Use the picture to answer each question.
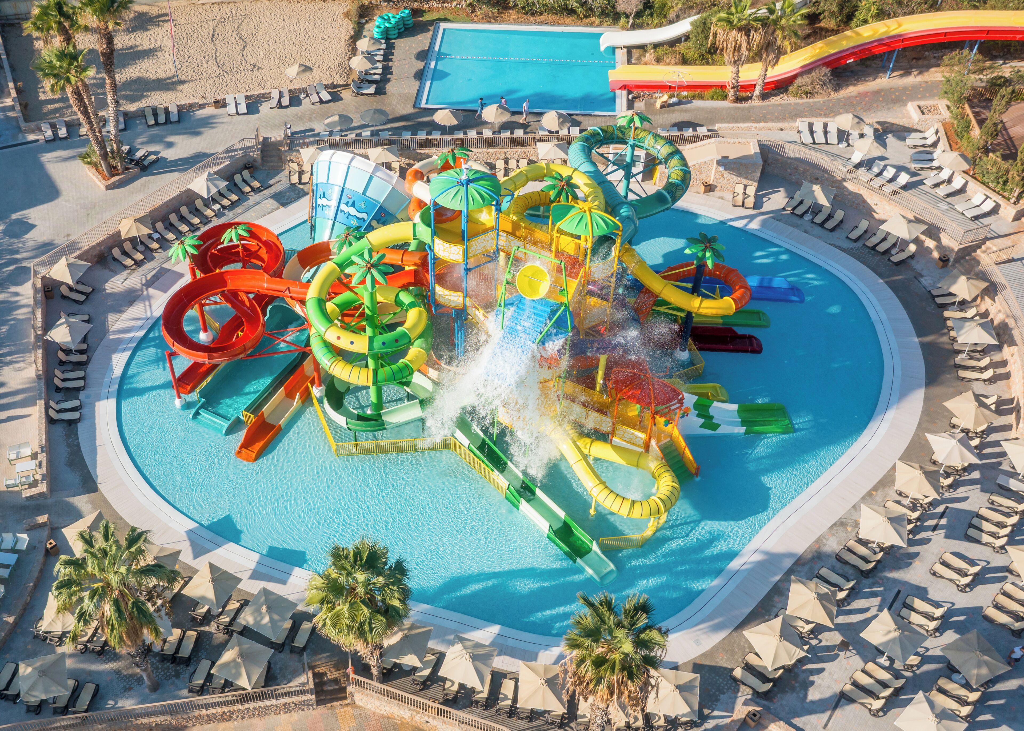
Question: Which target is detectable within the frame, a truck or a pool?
pool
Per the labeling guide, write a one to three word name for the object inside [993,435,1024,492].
umbrella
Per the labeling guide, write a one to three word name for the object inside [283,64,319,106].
umbrella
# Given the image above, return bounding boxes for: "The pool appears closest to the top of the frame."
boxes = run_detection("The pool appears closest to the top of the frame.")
[428,27,613,101]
